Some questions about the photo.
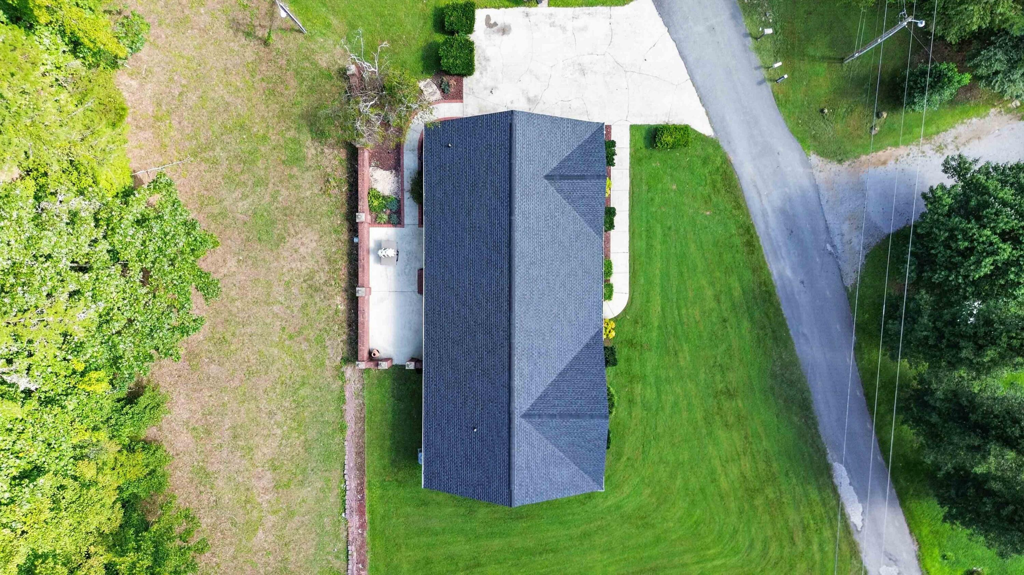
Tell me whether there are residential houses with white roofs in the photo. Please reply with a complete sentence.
No, there's no residential house with a white roof here.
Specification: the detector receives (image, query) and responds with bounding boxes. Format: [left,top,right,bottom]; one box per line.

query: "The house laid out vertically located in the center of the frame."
[421,110,609,507]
